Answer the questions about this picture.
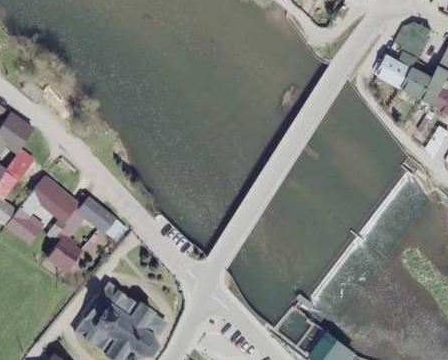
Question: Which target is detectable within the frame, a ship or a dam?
dam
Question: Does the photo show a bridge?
Yes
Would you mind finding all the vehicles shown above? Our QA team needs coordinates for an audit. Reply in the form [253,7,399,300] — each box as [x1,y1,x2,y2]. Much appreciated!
[182,242,191,253]
[163,224,171,236]
[176,234,184,244]
[247,344,255,355]
[231,330,239,341]
[222,322,230,333]
[236,336,244,346]
[241,339,249,351]
[169,229,177,240]
[426,45,434,55]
